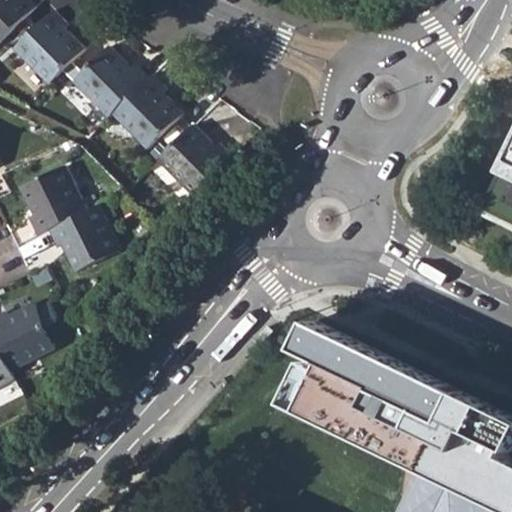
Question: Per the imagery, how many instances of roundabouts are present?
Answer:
2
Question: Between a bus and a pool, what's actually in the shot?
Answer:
bus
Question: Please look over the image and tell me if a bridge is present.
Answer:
No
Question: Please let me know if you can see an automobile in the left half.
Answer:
Yes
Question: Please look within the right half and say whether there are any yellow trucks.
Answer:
No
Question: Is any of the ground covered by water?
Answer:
No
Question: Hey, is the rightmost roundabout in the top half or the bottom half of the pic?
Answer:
top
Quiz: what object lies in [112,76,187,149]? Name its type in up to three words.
house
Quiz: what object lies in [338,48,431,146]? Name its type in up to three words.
roundabout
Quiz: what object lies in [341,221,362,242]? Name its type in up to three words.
car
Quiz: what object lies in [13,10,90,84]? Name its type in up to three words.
house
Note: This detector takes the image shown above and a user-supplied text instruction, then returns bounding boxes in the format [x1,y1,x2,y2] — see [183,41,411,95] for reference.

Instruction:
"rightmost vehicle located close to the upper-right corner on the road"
[451,6,472,26]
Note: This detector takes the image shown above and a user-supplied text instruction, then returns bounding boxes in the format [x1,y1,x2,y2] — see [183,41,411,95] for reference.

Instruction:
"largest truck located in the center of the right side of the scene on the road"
[415,258,450,285]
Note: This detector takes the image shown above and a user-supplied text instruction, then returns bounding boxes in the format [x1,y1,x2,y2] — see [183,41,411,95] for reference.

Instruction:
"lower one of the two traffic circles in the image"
[284,173,373,265]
